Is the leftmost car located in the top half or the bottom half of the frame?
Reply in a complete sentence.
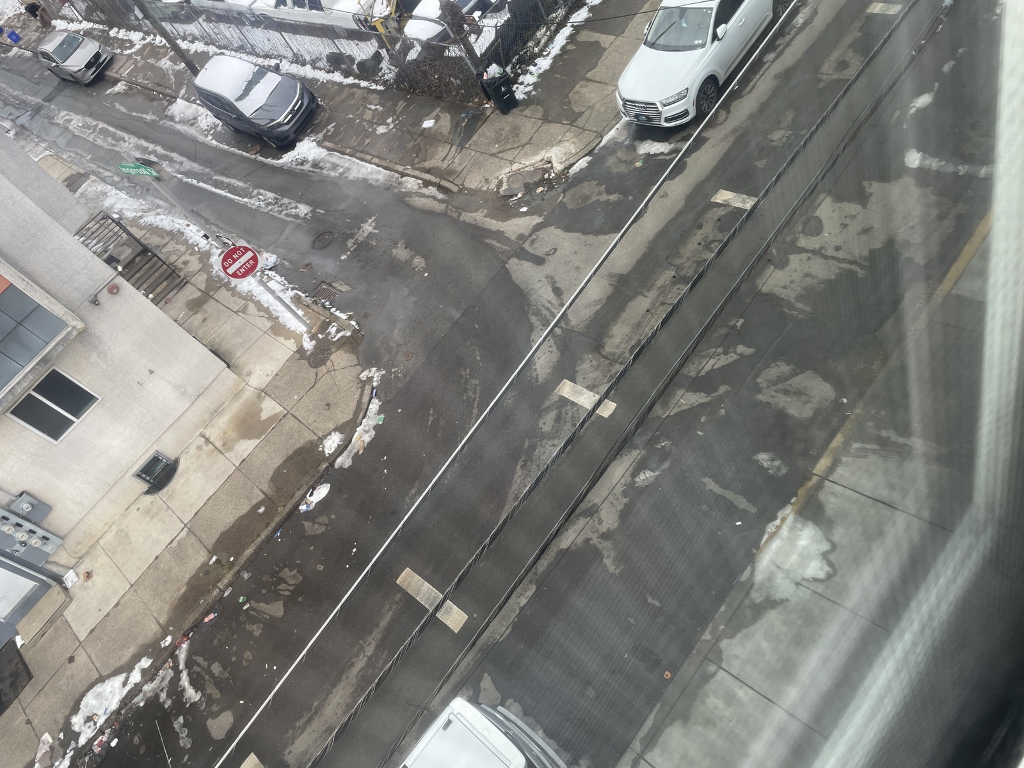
The leftmost car is in the top half of the image.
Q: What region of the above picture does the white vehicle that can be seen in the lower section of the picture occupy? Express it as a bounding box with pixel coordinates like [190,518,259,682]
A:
[392,695,566,768]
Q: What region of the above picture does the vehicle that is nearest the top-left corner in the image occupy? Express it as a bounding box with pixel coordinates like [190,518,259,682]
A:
[38,28,114,89]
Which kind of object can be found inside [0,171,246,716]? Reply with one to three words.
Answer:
building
